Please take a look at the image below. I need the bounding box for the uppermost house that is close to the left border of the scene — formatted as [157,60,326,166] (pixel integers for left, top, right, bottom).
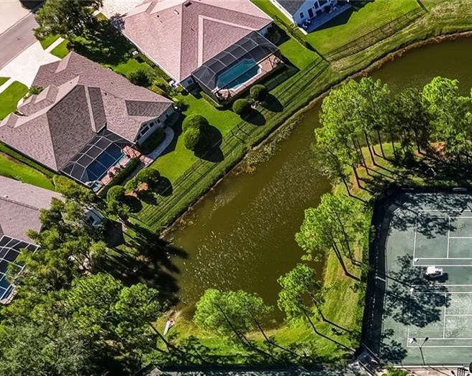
[0,51,175,176]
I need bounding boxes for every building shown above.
[276,0,342,22]
[0,176,65,260]
[0,51,175,176]
[116,0,274,91]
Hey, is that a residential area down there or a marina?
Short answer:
residential area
